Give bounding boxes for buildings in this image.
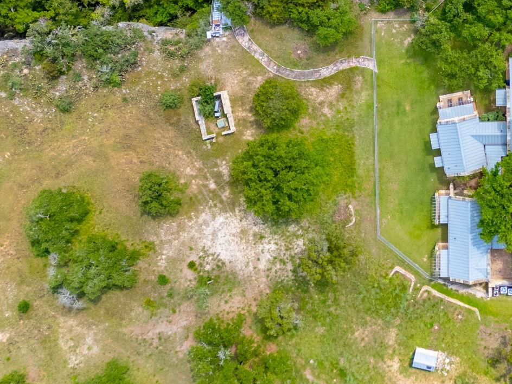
[413,340,439,377]
[430,98,507,177]
[440,185,512,296]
